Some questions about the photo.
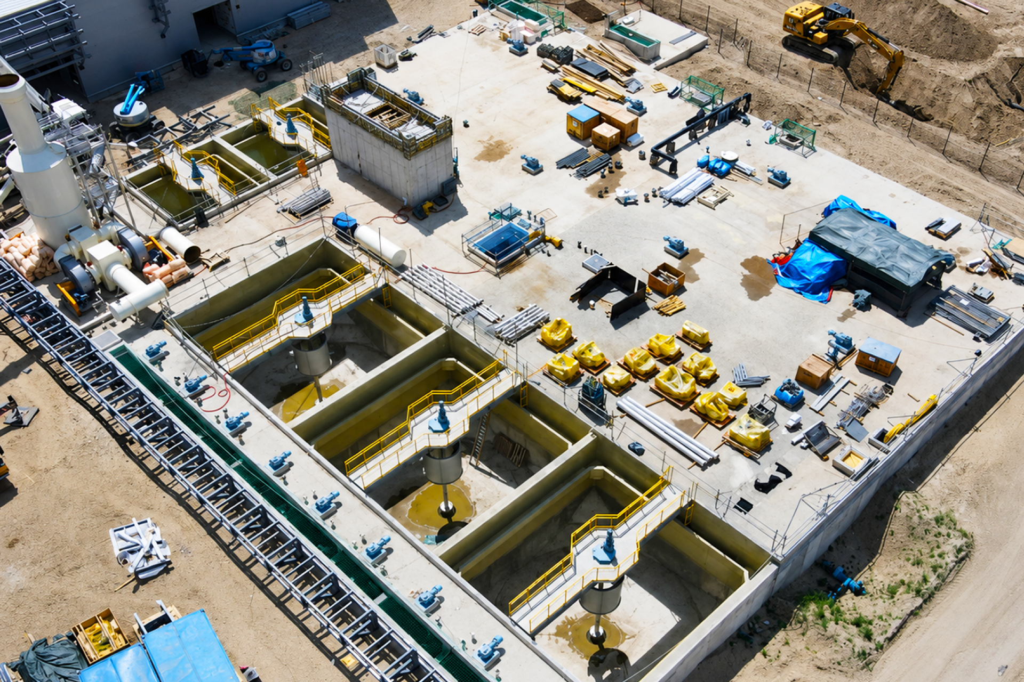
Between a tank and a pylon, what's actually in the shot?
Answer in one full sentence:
The one in the frame is a tank.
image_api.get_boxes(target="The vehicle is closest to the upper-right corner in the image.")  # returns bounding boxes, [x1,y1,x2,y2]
[778,0,910,96]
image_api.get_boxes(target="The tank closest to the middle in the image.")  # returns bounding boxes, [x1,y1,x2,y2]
[464,206,548,277]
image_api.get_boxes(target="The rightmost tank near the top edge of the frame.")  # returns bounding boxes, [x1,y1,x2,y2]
[604,23,660,63]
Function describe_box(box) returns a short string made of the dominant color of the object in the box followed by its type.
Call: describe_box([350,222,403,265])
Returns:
white storage tank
